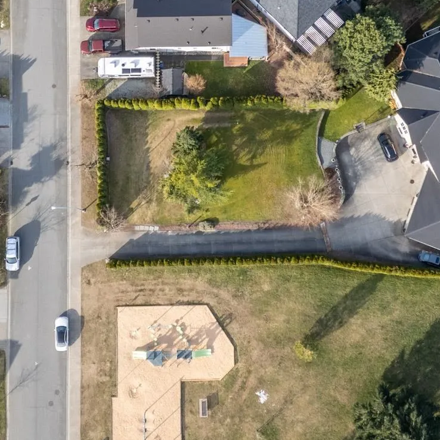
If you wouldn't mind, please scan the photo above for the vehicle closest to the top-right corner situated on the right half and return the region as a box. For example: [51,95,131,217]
[376,129,399,164]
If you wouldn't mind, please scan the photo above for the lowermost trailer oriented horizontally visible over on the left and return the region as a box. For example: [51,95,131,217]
[94,56,154,76]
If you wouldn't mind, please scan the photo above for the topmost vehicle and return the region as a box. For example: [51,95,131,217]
[87,15,120,33]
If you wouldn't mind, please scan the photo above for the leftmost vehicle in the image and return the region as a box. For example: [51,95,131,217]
[3,235,21,270]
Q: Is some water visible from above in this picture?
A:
No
